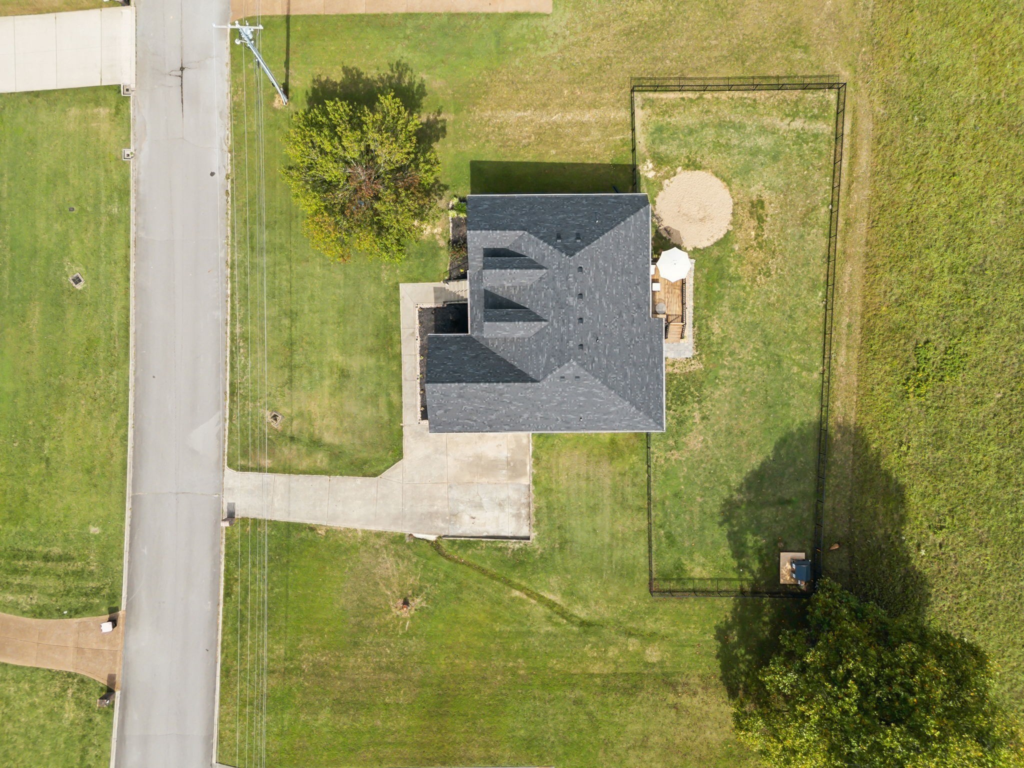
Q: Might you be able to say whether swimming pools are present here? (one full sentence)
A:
No, no swimming pool can be seen from above.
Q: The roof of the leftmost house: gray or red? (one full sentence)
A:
In this view, the roof of the leftmost house is gray.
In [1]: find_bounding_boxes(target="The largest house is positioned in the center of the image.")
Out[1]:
[424,193,667,433]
